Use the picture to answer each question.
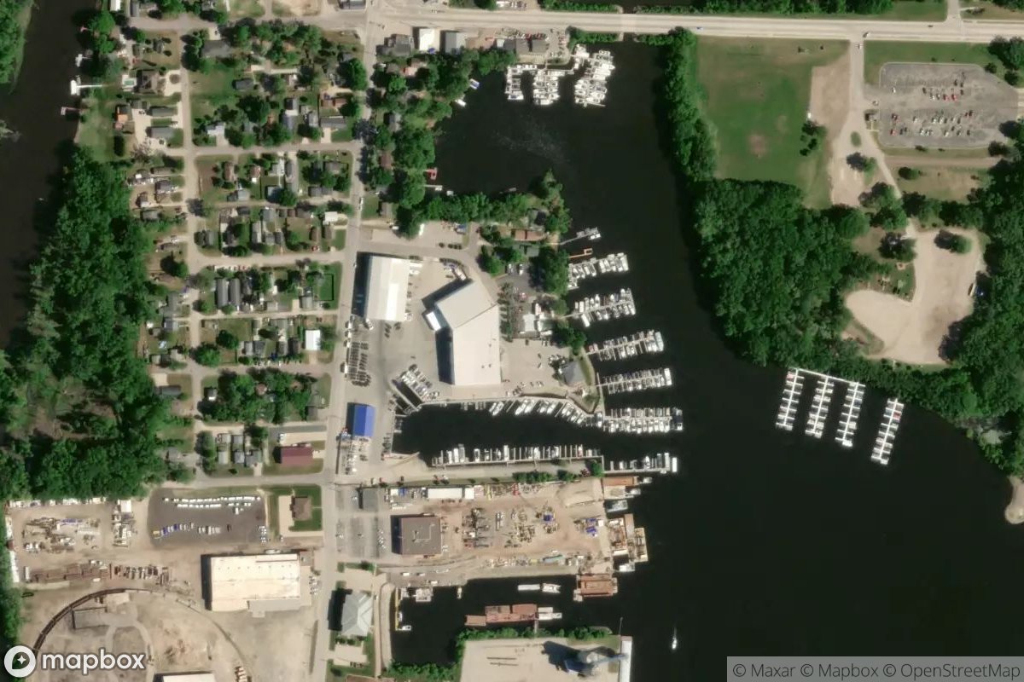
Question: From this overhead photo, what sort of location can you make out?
port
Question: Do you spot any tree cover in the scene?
Yes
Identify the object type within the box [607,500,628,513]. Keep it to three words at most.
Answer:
vessel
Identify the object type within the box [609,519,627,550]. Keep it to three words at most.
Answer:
ship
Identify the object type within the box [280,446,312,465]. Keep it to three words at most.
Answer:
house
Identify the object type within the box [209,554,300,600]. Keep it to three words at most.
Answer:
building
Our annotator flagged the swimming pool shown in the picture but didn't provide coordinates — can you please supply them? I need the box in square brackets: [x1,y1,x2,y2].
[122,75,136,90]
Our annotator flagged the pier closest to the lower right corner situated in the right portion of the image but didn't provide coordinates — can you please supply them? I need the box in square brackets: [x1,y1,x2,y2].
[872,399,904,462]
